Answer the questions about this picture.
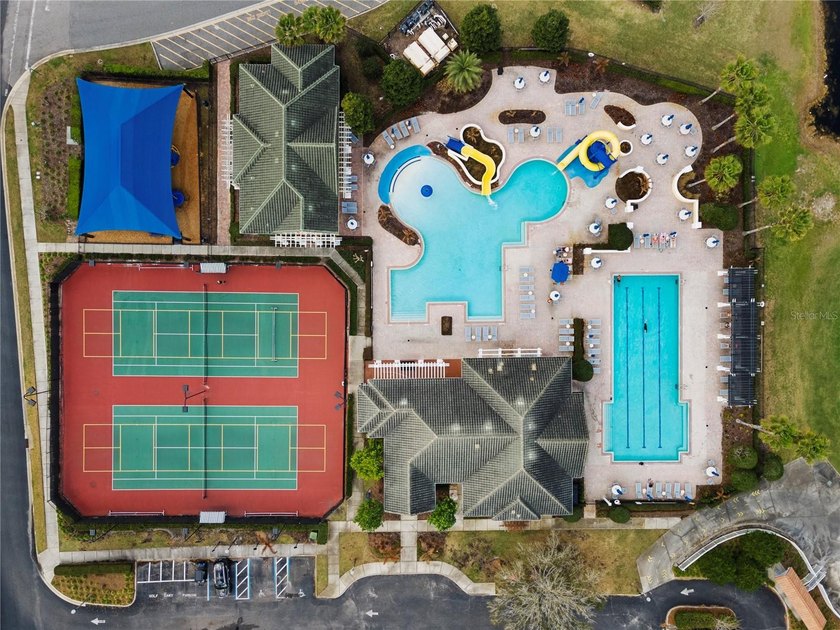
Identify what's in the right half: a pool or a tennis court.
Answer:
pool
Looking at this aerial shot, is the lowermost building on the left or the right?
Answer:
right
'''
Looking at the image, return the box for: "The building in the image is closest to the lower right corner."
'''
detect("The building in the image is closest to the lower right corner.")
[762,548,834,630]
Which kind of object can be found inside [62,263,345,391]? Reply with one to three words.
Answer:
tennis court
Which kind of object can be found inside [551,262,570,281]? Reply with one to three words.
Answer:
umbrella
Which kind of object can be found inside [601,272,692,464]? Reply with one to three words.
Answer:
swimming pool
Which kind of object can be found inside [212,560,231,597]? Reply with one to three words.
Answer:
car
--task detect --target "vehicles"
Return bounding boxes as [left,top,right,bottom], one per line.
[212,560,231,597]
[194,562,209,585]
